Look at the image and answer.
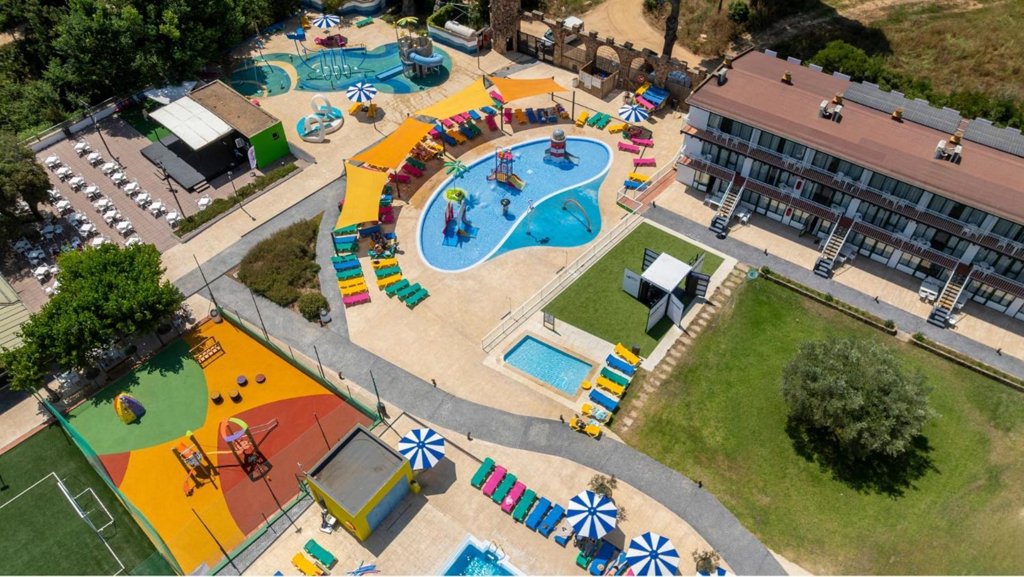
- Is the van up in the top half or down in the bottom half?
top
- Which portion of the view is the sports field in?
bottom left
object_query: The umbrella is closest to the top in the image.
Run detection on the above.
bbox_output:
[314,18,341,45]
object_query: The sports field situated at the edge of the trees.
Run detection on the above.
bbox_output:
[0,421,182,577]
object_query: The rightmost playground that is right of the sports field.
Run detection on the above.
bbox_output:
[217,394,378,536]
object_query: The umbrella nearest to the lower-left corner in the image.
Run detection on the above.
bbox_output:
[400,432,445,473]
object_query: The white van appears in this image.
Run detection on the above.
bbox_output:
[542,14,586,46]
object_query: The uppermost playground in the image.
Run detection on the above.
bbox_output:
[61,339,210,455]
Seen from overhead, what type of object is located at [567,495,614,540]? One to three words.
umbrella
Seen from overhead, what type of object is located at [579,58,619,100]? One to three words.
building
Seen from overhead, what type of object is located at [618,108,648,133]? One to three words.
umbrella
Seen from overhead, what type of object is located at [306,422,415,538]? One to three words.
shed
